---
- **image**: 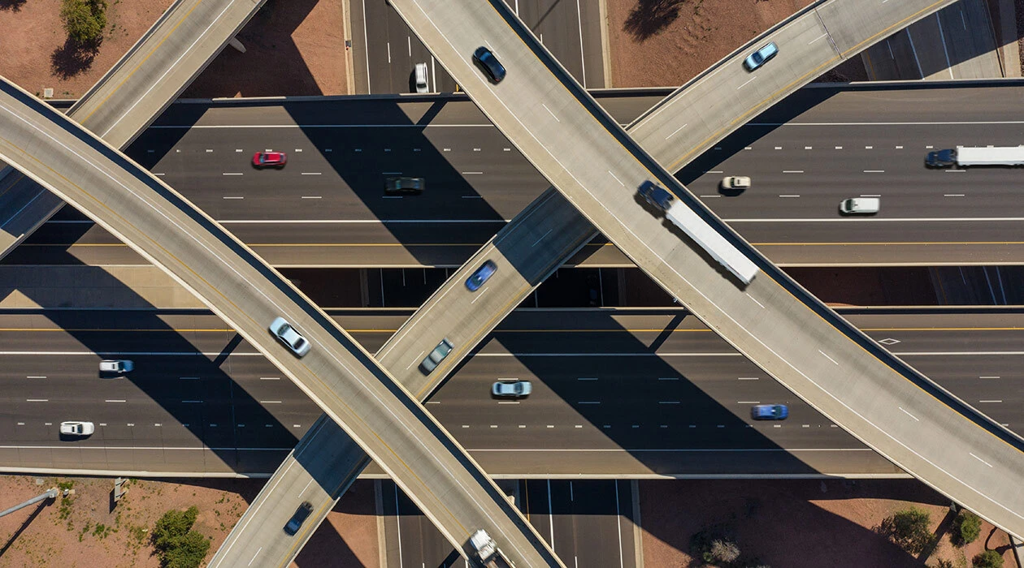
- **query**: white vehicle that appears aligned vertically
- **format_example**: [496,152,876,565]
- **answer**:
[415,62,429,93]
